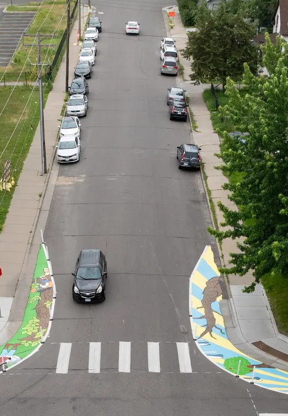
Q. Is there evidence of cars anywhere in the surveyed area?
Yes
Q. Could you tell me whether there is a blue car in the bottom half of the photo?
No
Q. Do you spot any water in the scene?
No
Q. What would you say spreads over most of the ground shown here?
paved ground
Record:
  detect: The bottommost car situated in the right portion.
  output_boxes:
[173,138,201,167]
